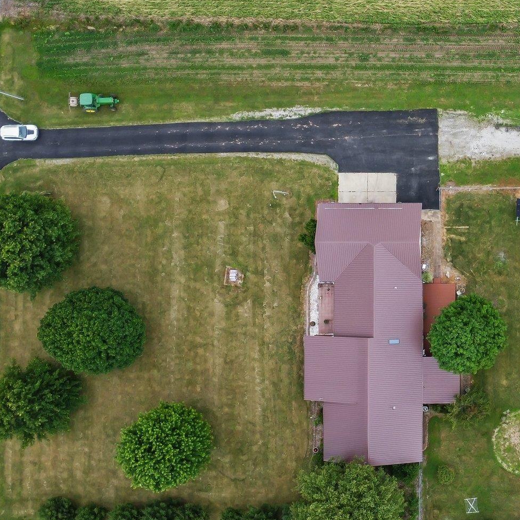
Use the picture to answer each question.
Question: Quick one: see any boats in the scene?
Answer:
No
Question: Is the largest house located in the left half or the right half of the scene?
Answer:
right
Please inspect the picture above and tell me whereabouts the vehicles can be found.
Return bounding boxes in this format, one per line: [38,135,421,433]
[80,91,121,113]
[0,124,40,141]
